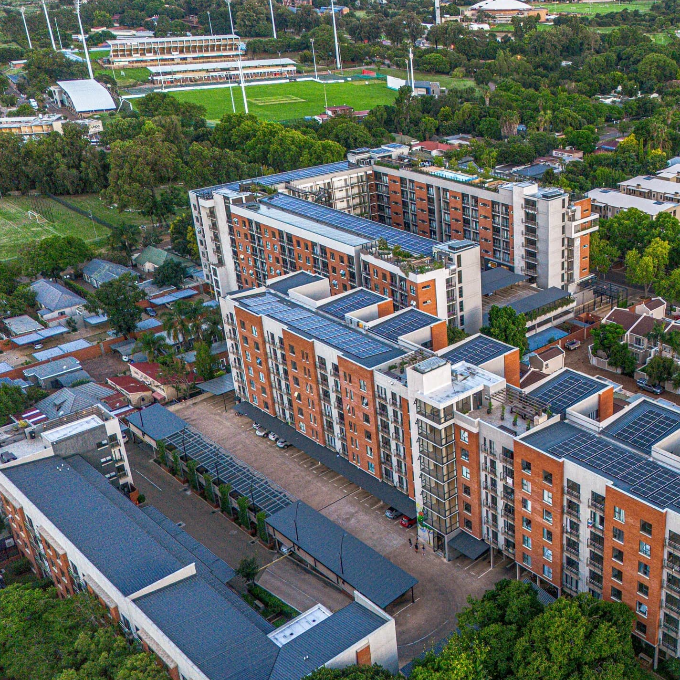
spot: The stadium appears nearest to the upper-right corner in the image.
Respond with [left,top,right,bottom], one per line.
[459,0,577,31]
